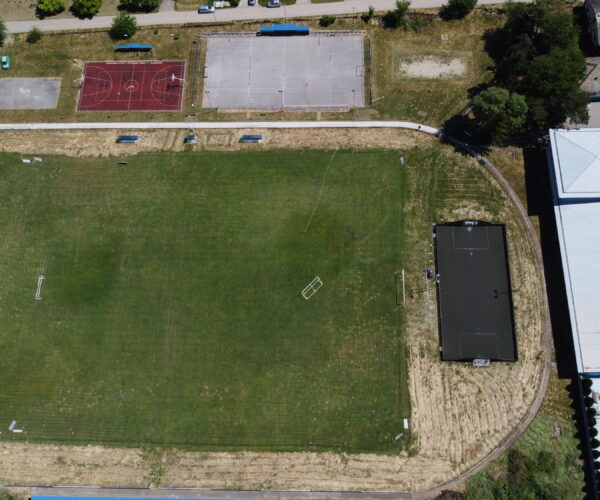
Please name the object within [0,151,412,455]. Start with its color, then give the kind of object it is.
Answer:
green soccer field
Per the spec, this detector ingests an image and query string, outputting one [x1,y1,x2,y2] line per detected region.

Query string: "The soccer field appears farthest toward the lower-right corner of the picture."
[435,224,517,360]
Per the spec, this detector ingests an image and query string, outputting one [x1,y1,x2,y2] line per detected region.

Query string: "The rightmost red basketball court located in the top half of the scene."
[76,59,186,113]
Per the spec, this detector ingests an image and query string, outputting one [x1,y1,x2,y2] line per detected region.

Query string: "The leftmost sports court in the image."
[0,77,62,109]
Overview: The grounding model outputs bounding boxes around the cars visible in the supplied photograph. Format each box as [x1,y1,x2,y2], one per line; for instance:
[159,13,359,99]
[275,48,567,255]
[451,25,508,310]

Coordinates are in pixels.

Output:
[213,0,224,9]
[0,56,9,70]
[472,360,491,369]
[197,6,214,15]
[266,1,281,9]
